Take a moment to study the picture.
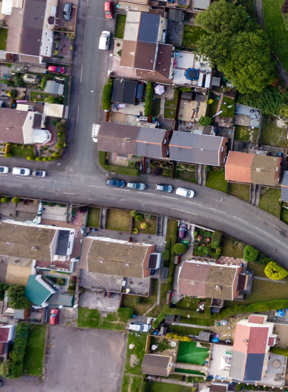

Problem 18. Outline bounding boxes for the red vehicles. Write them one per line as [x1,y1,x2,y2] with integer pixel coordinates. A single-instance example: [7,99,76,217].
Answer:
[104,0,115,19]
[49,307,59,325]
[47,67,66,74]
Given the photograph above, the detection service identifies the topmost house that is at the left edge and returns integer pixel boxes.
[9,0,62,31]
